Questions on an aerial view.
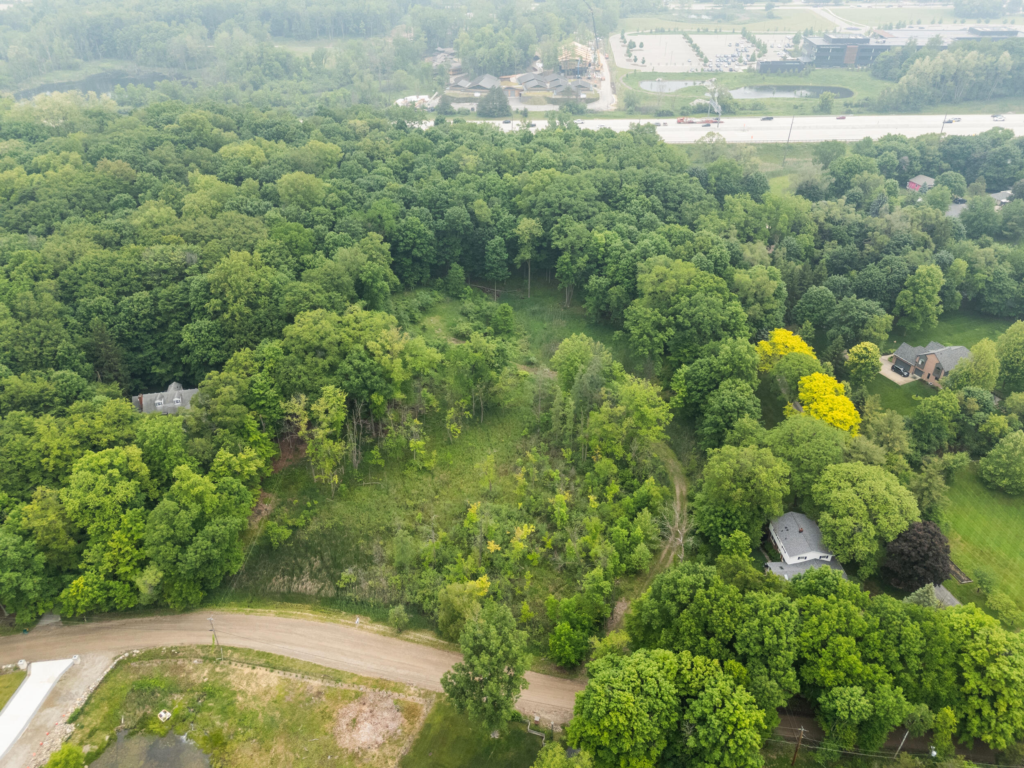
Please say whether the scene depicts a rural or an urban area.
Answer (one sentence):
From above, the setting appears rural.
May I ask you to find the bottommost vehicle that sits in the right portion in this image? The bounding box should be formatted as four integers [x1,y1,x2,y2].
[891,365,911,378]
